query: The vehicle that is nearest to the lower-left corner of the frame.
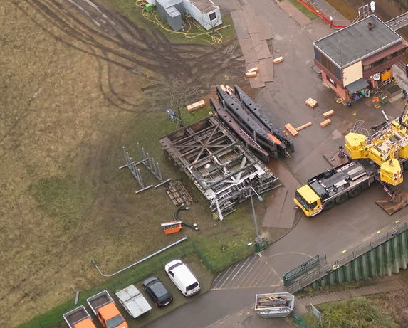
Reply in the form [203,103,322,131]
[60,302,100,328]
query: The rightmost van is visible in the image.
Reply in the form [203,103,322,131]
[165,259,203,301]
